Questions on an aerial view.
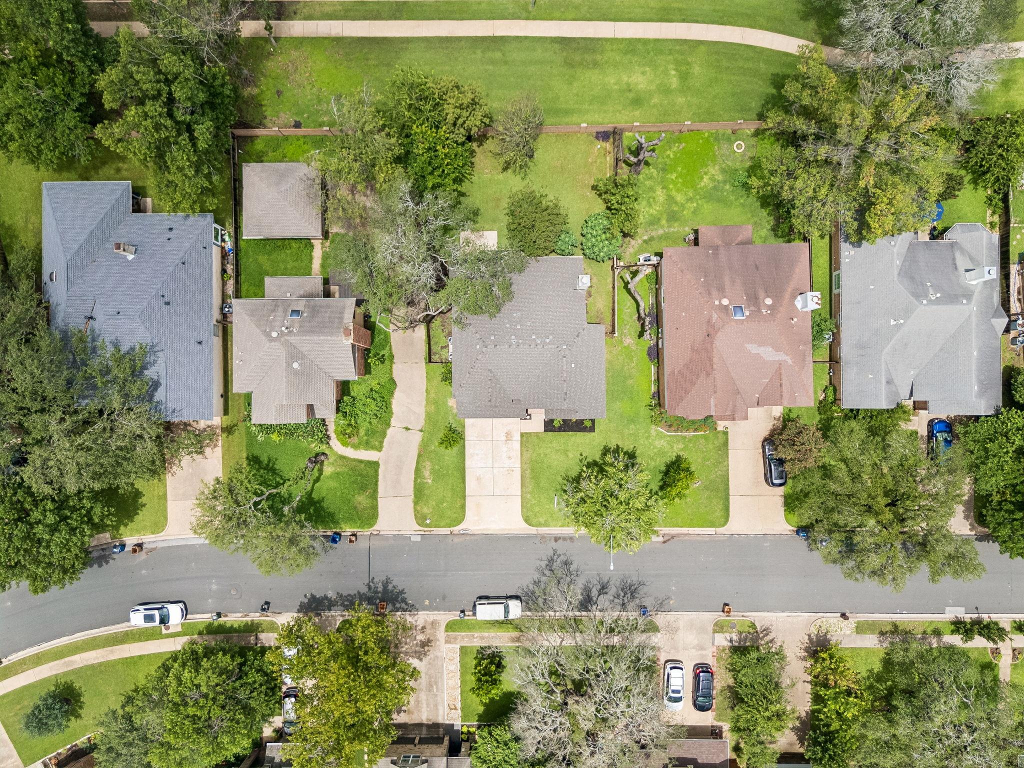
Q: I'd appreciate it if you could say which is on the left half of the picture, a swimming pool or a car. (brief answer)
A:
car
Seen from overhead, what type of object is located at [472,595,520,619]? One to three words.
car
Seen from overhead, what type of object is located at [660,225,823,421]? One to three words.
house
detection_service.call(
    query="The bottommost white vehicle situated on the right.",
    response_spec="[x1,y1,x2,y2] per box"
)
[663,659,686,710]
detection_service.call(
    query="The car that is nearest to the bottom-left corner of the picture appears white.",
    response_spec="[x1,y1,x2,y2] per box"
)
[135,600,187,625]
